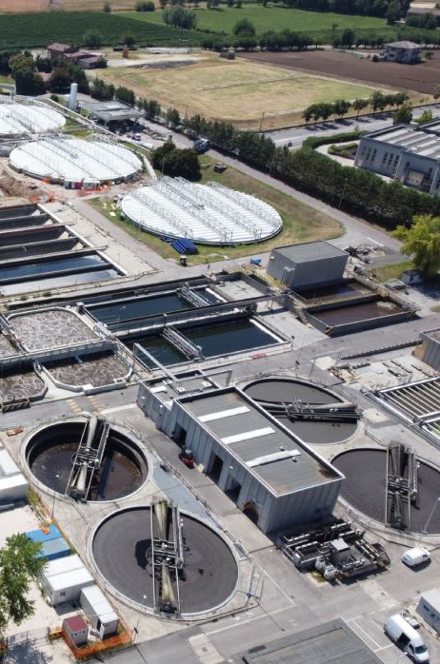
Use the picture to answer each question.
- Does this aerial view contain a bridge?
Yes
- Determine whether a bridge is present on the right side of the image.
Yes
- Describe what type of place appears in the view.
industrial area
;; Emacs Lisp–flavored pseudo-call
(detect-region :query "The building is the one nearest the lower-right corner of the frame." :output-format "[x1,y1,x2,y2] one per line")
[417,589,440,631]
